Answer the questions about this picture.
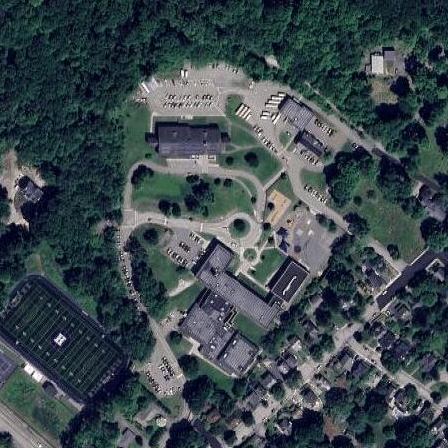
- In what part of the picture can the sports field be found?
bottom left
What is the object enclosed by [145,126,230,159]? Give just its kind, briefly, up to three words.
building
